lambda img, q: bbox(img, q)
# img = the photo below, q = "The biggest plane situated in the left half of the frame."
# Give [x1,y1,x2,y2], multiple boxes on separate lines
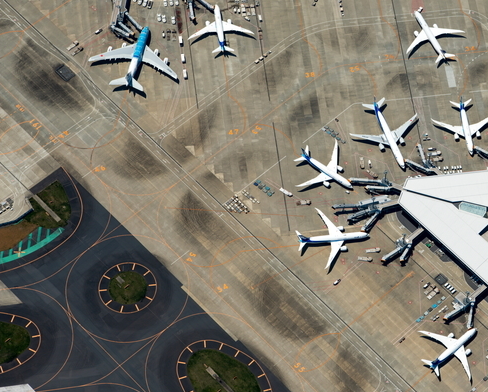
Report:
[89,27,178,91]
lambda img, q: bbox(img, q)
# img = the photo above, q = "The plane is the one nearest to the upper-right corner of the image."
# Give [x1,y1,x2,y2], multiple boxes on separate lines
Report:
[406,12,465,60]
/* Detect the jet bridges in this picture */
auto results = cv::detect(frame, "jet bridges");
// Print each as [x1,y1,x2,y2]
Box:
[349,177,390,186]
[123,10,143,31]
[198,0,215,14]
[359,209,382,233]
[473,146,488,157]
[443,301,472,321]
[405,159,429,175]
[416,144,427,168]
[109,23,130,42]
[347,206,380,222]
[396,242,413,262]
[382,240,412,263]
[183,0,194,20]
[462,301,475,328]
[366,185,394,194]
[333,196,393,210]
[118,20,135,39]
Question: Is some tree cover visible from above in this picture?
No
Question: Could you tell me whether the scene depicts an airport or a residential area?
airport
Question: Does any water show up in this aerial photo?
No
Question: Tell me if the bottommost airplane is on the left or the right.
right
